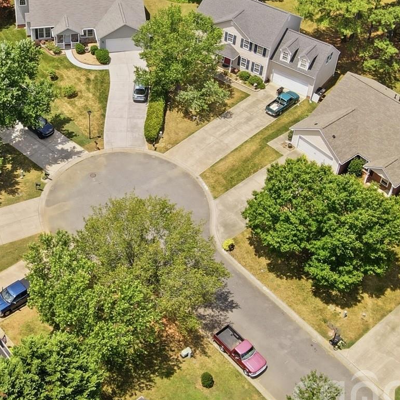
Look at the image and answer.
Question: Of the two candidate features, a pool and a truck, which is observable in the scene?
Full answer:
Of the two, only a truck appears.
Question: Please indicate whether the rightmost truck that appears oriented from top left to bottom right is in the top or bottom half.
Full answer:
The bottom half of the photo is where the rightmost truck that appears oriented from top left to bottom right is.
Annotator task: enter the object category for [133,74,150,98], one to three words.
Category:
car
